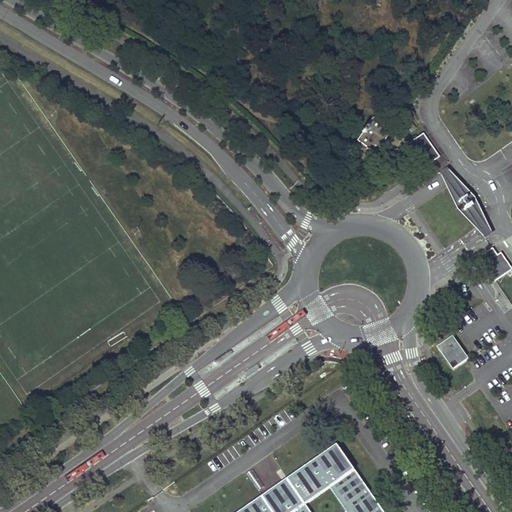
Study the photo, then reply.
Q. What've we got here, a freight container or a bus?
bus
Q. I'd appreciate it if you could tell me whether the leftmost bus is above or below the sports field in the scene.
below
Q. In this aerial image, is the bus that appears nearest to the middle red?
Yes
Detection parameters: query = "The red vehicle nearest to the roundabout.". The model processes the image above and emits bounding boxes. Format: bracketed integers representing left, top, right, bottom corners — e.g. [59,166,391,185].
[267,309,308,340]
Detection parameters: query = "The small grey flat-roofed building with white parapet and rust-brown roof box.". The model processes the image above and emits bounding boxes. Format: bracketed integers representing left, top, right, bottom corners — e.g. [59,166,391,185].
[437,336,468,370]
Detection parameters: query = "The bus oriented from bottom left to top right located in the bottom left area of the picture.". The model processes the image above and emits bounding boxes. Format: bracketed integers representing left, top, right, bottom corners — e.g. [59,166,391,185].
[66,450,108,482]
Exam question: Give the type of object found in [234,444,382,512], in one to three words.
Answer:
building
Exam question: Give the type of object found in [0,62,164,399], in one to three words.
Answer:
sports field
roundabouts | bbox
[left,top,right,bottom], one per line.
[297,213,430,346]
